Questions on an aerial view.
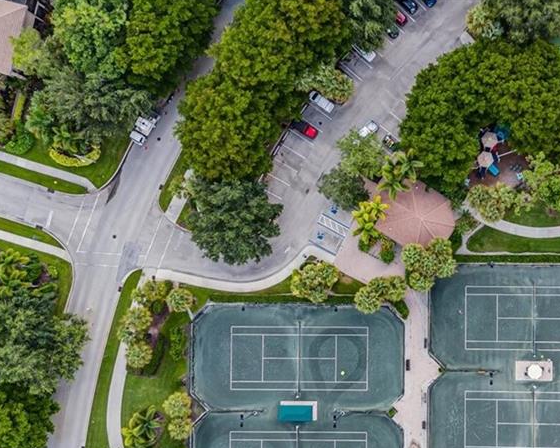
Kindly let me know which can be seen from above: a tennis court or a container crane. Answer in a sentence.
The image shows a tennis court.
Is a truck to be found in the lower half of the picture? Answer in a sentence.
No, no truck appears in the lower half of the picture.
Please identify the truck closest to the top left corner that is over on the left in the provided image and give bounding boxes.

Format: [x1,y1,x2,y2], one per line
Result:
[130,111,160,149]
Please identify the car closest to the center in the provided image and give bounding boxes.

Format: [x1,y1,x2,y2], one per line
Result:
[290,119,318,140]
